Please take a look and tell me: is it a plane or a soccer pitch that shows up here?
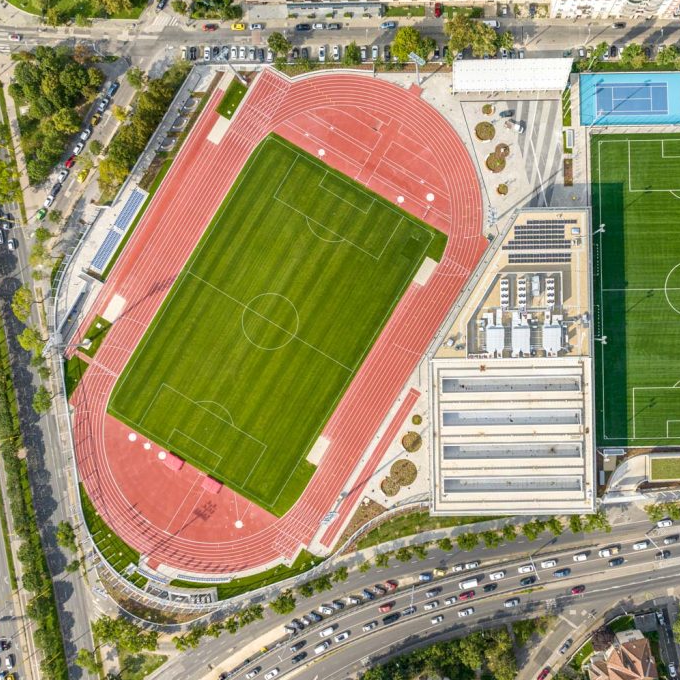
soccer pitch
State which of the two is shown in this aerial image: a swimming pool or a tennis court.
tennis court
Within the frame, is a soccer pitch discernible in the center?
Yes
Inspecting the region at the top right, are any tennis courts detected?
Yes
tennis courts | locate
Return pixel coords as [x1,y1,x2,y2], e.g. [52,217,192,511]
[597,82,668,114]
[580,71,680,125]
